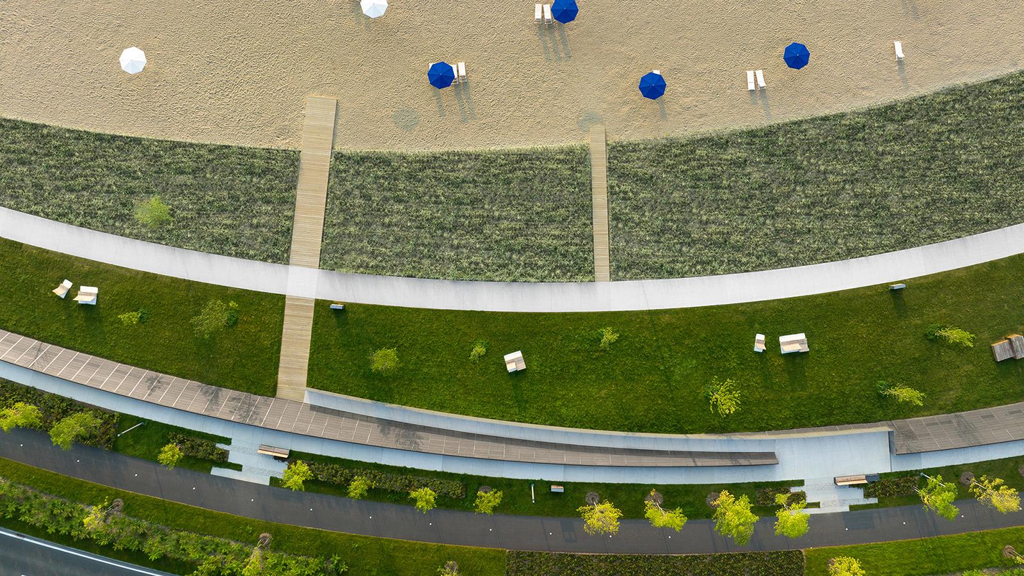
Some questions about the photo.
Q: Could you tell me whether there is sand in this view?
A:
Yes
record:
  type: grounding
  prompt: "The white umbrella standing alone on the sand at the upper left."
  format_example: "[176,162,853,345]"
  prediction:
[121,47,149,74]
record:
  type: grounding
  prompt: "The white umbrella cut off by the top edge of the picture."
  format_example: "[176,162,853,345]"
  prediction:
[361,0,388,20]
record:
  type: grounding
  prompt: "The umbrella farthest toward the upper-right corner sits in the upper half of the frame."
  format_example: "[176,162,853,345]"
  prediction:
[781,43,809,71]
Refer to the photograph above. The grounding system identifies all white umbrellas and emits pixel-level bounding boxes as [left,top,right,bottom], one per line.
[361,0,388,20]
[121,47,149,74]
